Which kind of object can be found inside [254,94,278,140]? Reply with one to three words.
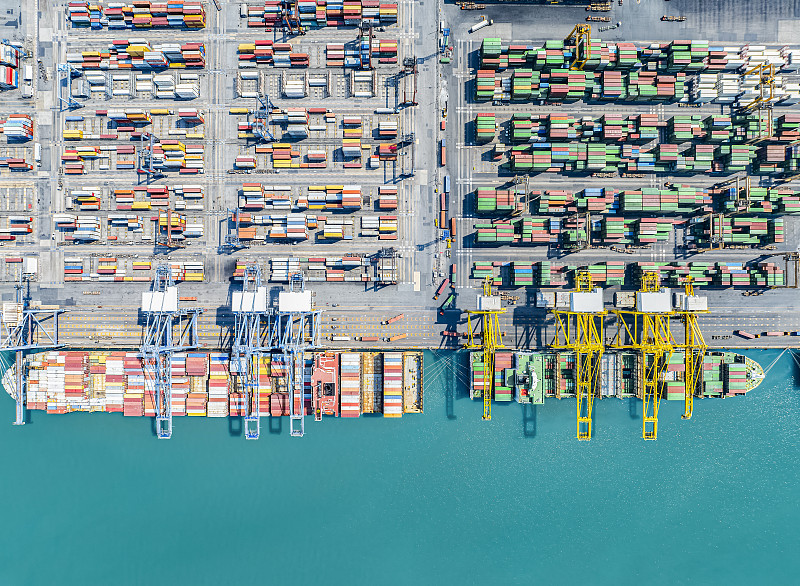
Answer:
container crane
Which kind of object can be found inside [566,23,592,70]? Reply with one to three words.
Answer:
container crane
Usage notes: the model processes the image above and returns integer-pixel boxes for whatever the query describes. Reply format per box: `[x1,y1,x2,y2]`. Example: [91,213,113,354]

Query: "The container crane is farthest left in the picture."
[0,271,67,426]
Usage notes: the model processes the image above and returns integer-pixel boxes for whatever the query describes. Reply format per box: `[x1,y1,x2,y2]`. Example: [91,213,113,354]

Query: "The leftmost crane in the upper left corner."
[55,59,89,106]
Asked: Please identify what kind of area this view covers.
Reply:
port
